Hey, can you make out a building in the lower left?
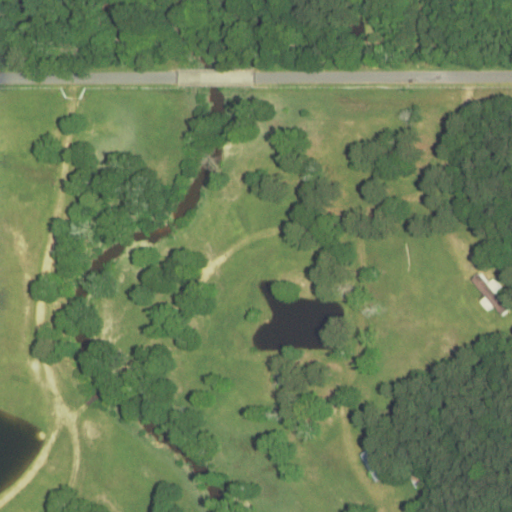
No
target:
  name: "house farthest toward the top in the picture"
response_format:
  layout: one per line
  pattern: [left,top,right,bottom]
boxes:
[472,272,509,316]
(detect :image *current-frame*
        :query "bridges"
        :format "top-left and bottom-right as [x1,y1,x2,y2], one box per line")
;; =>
[176,70,255,86]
